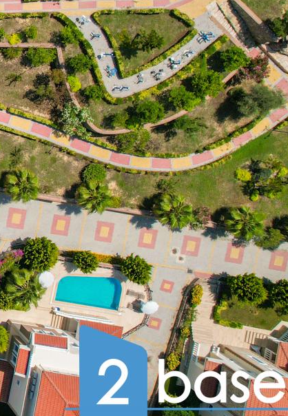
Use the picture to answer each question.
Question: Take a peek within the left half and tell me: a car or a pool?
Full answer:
Looking within the left half, you will find a pool.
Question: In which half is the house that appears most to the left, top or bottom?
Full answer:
The house that appears most to the left sits in the bottom half of the picture.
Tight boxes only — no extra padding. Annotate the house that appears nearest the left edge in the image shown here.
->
[0,309,128,416]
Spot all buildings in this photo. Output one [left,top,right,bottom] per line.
[176,324,288,416]
[0,309,128,416]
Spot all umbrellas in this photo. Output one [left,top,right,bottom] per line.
[37,272,54,288]
[136,297,158,317]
